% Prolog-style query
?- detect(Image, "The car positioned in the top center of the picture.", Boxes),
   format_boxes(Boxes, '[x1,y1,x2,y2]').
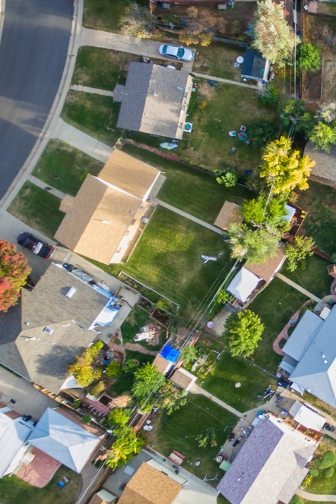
[158,45,196,62]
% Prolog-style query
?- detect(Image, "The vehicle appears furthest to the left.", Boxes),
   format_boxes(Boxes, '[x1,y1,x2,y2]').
[18,232,57,261]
